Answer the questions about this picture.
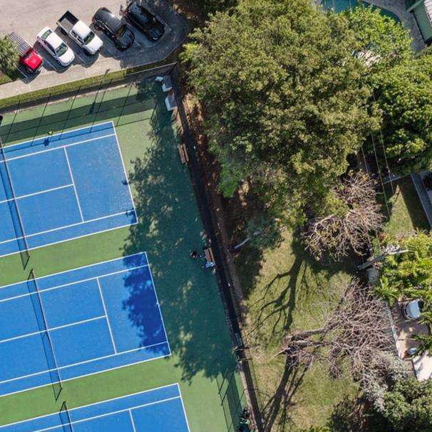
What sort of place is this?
sports ground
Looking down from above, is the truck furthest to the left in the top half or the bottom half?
top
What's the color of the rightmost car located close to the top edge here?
black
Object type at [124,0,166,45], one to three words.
car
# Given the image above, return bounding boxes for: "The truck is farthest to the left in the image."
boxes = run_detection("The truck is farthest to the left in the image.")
[3,26,45,77]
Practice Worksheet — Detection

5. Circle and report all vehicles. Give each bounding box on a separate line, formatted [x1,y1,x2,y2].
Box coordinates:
[56,2,102,58]
[38,22,76,69]
[124,0,166,45]
[3,26,45,77]
[95,2,135,53]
